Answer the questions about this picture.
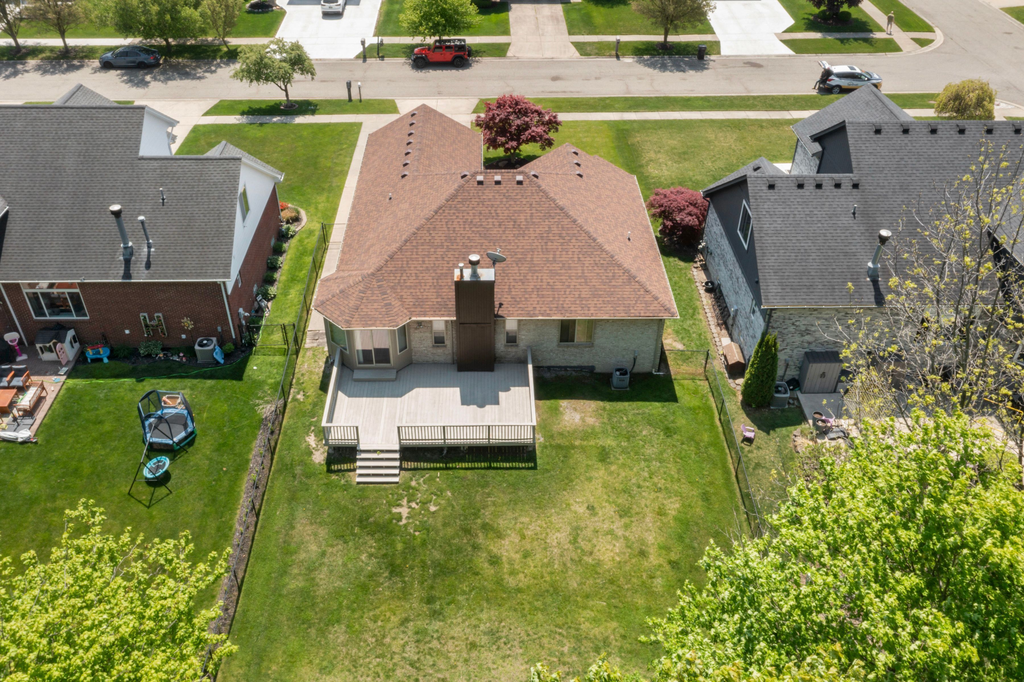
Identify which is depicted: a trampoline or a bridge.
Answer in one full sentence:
The one in the frame is a trampoline.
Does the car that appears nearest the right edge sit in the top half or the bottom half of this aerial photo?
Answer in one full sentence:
The car that appears nearest the right edge sits in the top half of the picture.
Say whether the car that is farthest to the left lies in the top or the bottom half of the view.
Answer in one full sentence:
You can find the car that is farthest to the left in the top half.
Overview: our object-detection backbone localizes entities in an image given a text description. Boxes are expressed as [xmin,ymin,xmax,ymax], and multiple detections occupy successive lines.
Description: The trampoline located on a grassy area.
[131,385,198,455]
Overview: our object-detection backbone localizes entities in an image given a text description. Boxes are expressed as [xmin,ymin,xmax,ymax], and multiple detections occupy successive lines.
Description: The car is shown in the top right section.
[821,60,890,94]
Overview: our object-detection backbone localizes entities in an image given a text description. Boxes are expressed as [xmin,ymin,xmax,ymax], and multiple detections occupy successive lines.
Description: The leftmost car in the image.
[101,41,165,67]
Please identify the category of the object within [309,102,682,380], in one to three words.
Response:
house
